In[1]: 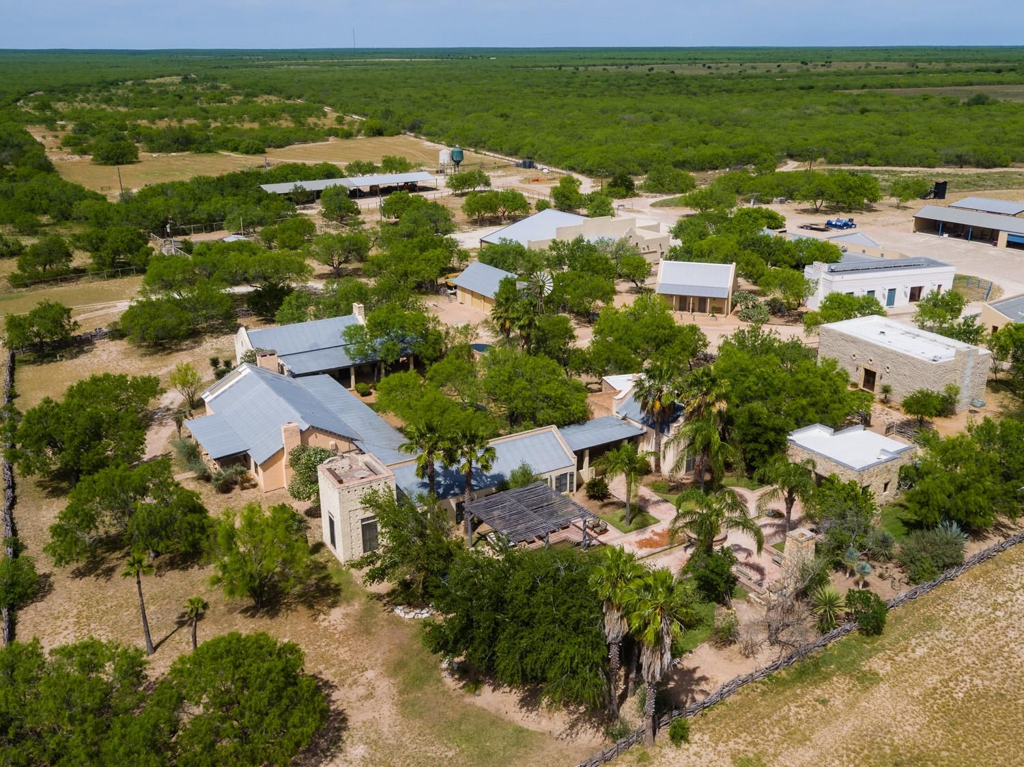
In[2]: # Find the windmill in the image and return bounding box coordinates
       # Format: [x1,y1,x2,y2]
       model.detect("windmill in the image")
[513,269,556,317]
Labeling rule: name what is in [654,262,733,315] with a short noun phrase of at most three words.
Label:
house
